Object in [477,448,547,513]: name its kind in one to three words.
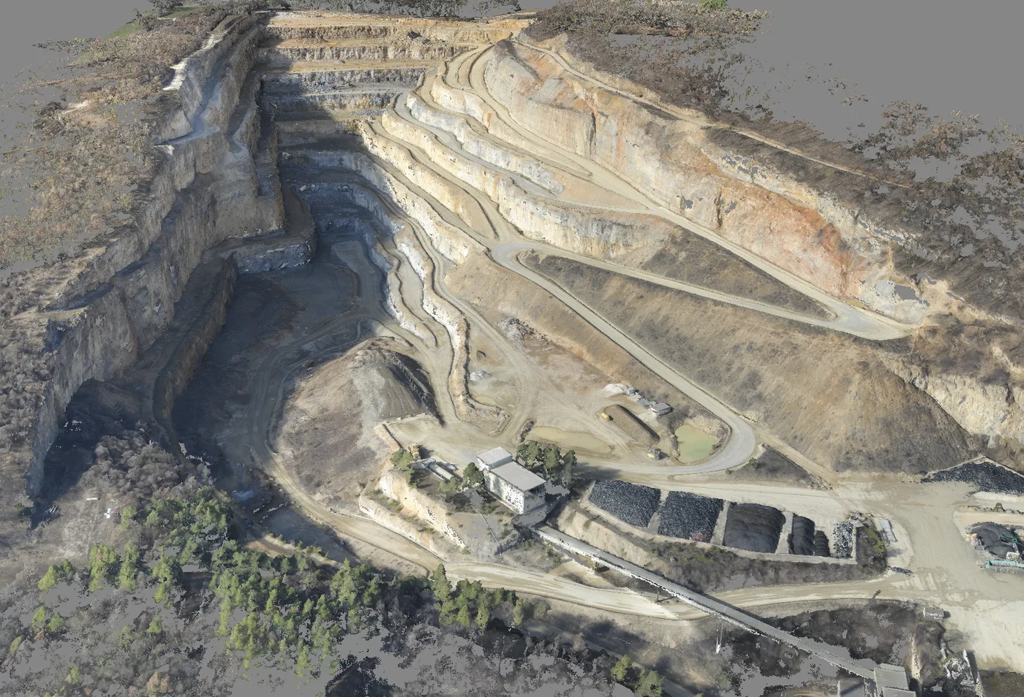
building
